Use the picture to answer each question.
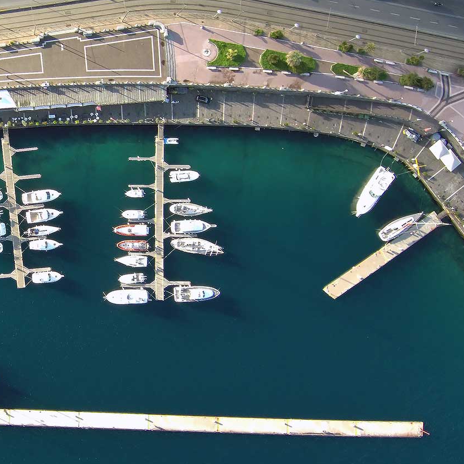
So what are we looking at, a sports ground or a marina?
marina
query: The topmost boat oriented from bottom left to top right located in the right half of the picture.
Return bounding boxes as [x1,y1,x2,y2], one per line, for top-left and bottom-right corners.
[356,165,397,219]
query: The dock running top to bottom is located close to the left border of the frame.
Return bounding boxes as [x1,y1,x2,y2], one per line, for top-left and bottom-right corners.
[0,125,52,288]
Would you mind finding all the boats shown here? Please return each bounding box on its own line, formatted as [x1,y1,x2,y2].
[166,219,219,234]
[115,240,153,250]
[113,254,154,268]
[0,221,9,237]
[27,271,64,284]
[380,213,442,242]
[24,208,63,223]
[121,189,148,197]
[164,170,200,182]
[165,201,214,216]
[356,165,397,219]
[112,223,153,237]
[168,234,225,256]
[100,288,154,304]
[164,138,180,144]
[25,239,63,251]
[116,273,146,283]
[20,189,63,206]
[169,285,221,302]
[22,225,63,237]
[118,210,149,219]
